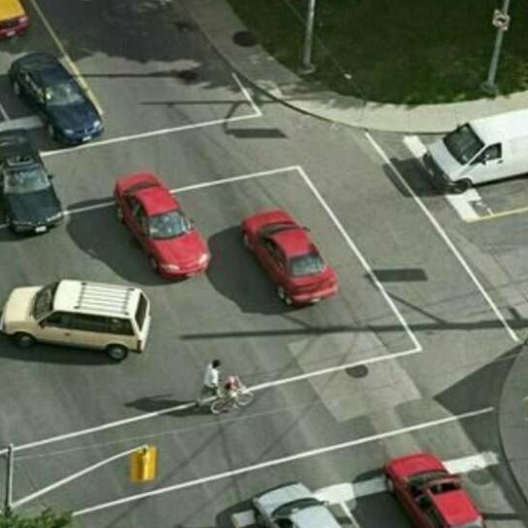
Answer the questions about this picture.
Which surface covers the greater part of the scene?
paved ground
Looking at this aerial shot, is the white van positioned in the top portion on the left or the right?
right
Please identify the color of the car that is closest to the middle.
red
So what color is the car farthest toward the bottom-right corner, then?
red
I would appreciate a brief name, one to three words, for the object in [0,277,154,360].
car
